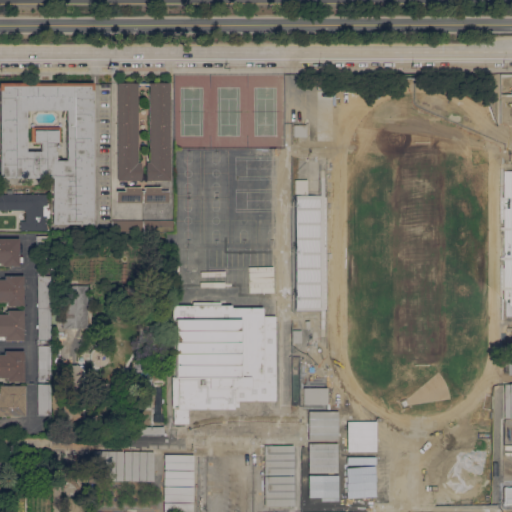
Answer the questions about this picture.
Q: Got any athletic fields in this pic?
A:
Yes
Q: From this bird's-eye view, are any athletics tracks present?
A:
Yes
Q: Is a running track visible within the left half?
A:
No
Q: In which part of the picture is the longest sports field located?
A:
right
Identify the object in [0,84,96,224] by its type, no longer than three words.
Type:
building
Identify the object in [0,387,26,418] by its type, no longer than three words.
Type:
house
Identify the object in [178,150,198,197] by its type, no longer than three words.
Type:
basketball court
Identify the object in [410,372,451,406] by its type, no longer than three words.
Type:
baseball field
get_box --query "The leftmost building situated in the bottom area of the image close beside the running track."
[172,302,276,426]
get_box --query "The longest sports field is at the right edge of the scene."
[347,147,487,415]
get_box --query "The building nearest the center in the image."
[249,267,274,294]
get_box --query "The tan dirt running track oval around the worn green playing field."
[335,111,499,427]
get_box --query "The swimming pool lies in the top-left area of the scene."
[34,112,56,124]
